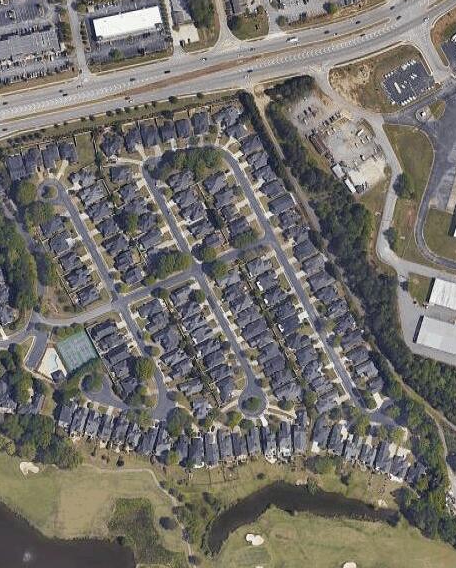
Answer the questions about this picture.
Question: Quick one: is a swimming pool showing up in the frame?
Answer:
Yes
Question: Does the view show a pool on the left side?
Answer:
Yes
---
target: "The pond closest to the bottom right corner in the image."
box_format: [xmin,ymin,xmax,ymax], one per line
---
[205,480,399,556]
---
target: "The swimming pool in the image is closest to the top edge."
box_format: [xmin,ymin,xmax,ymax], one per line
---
[38,347,66,376]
